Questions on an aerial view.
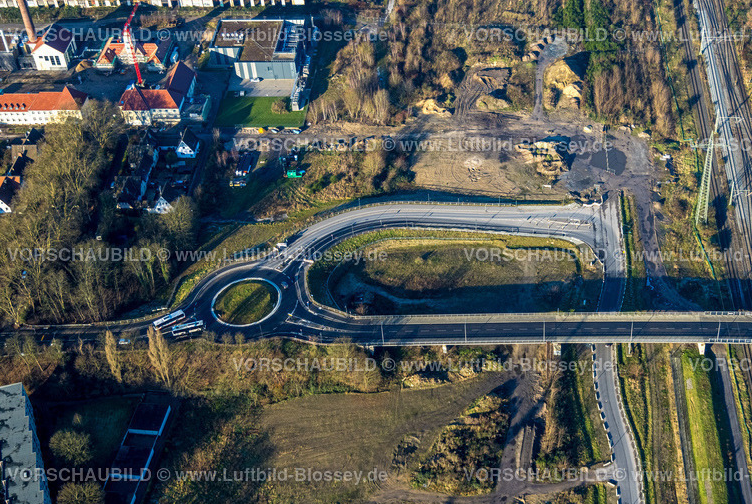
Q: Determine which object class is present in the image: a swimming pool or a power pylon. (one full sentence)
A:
There is a power pylon in the scene.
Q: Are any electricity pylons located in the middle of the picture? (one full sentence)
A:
No, no electricity pylon can be made out in the middle of the picture.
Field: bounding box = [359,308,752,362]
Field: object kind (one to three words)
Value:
bridge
